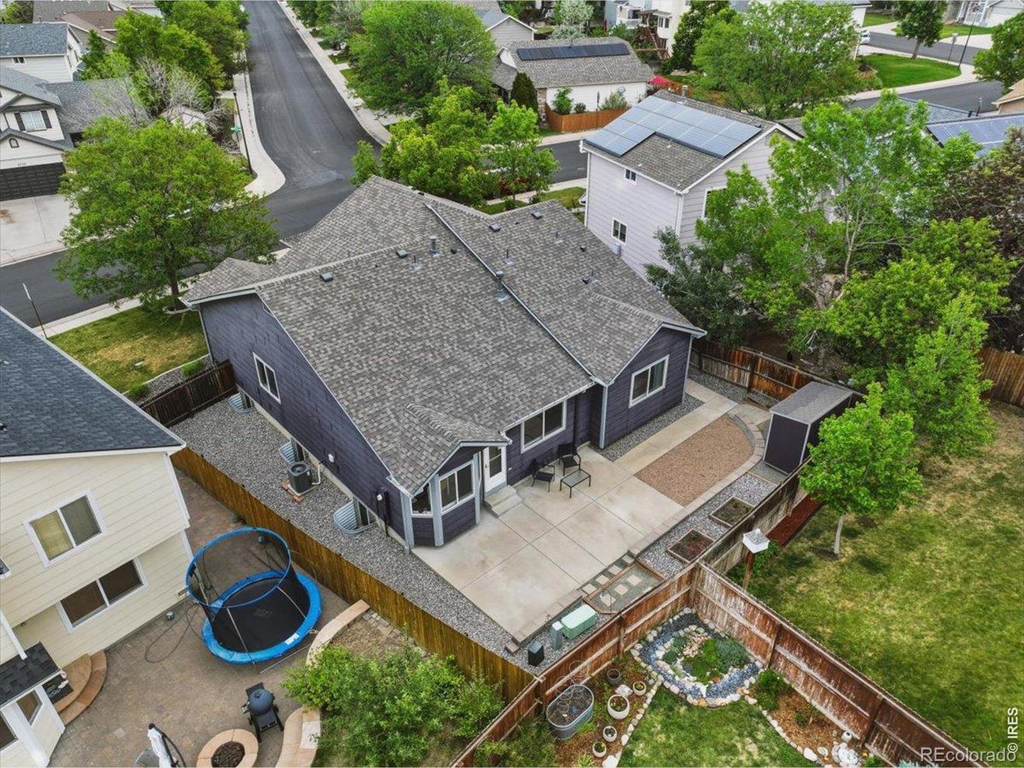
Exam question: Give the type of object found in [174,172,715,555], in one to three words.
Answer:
house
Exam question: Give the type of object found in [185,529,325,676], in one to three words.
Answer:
trampoline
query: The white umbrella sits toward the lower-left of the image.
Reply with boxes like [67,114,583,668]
[147,722,186,768]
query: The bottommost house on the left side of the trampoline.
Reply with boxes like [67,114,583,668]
[0,288,201,768]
